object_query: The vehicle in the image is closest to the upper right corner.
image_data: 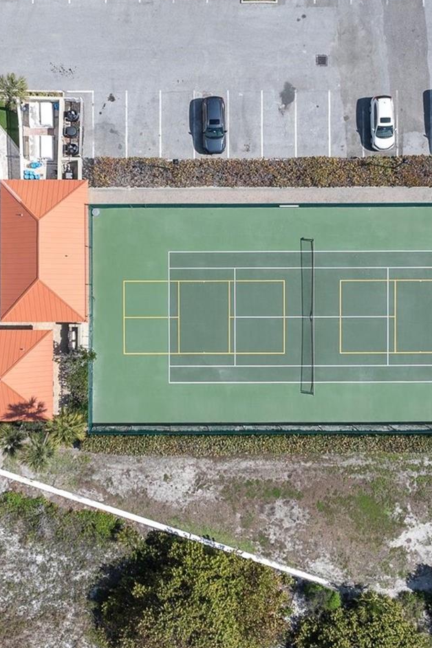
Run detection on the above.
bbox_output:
[369,96,398,153]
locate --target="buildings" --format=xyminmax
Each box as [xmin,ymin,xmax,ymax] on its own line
[0,179,88,322]
[0,329,57,421]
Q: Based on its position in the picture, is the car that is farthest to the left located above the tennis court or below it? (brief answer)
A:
above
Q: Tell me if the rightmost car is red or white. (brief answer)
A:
white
